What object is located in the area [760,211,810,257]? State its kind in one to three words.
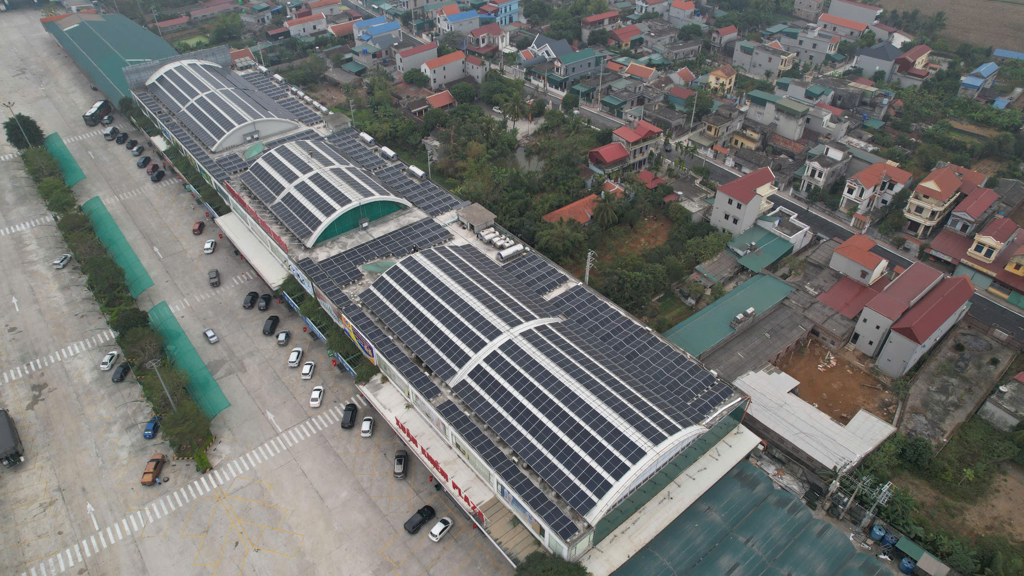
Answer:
house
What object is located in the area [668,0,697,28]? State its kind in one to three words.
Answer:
house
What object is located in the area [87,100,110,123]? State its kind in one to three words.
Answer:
bus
